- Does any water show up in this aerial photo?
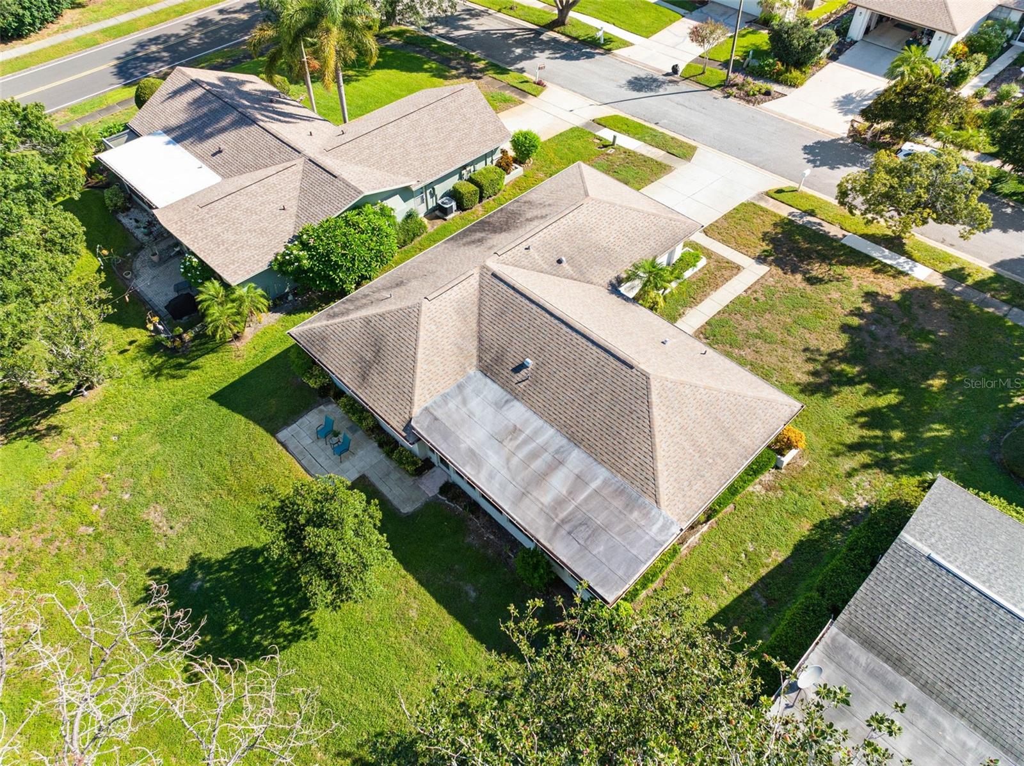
No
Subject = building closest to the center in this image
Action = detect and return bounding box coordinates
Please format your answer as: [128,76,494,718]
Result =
[284,161,810,616]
